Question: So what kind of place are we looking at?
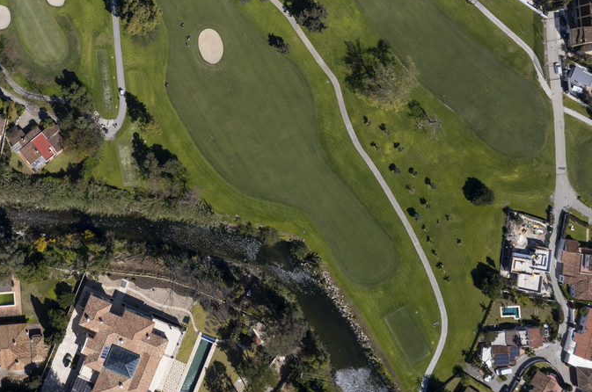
golf course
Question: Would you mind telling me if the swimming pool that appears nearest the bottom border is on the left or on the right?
left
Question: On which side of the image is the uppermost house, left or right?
right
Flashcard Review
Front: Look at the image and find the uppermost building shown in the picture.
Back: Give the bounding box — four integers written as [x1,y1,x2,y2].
[563,0,592,46]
